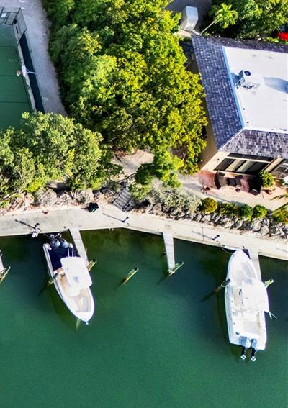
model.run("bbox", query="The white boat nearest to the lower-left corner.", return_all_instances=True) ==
[45,238,93,323]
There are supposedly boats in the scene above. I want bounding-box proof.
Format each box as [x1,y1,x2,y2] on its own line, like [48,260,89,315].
[220,250,277,363]
[45,238,93,323]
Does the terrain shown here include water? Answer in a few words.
Yes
